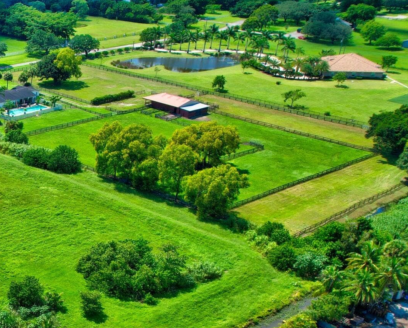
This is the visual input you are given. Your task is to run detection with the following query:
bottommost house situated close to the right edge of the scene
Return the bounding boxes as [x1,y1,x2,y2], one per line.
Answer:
[303,48,403,76]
